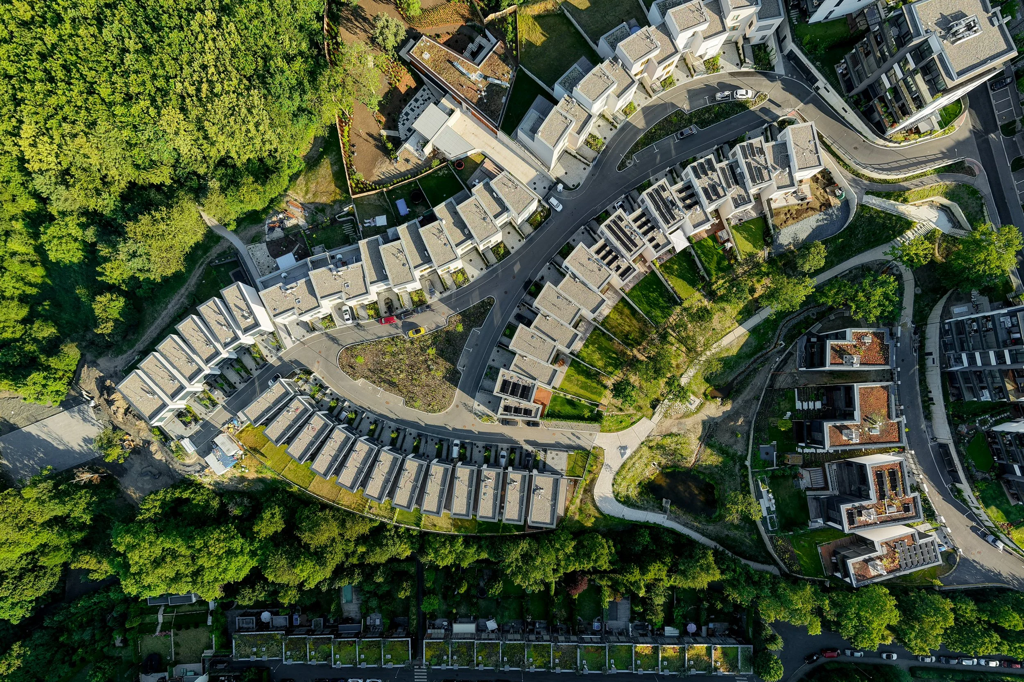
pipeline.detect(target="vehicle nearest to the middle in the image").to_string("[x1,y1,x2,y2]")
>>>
[513,312,532,326]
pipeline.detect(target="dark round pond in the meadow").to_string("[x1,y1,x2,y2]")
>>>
[649,471,717,517]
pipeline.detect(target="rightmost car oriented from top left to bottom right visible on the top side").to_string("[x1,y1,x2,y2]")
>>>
[614,198,628,214]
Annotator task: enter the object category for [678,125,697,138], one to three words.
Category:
vehicle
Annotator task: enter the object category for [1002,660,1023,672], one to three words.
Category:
vehicle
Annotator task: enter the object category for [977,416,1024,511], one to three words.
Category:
building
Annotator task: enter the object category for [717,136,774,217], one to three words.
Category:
house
